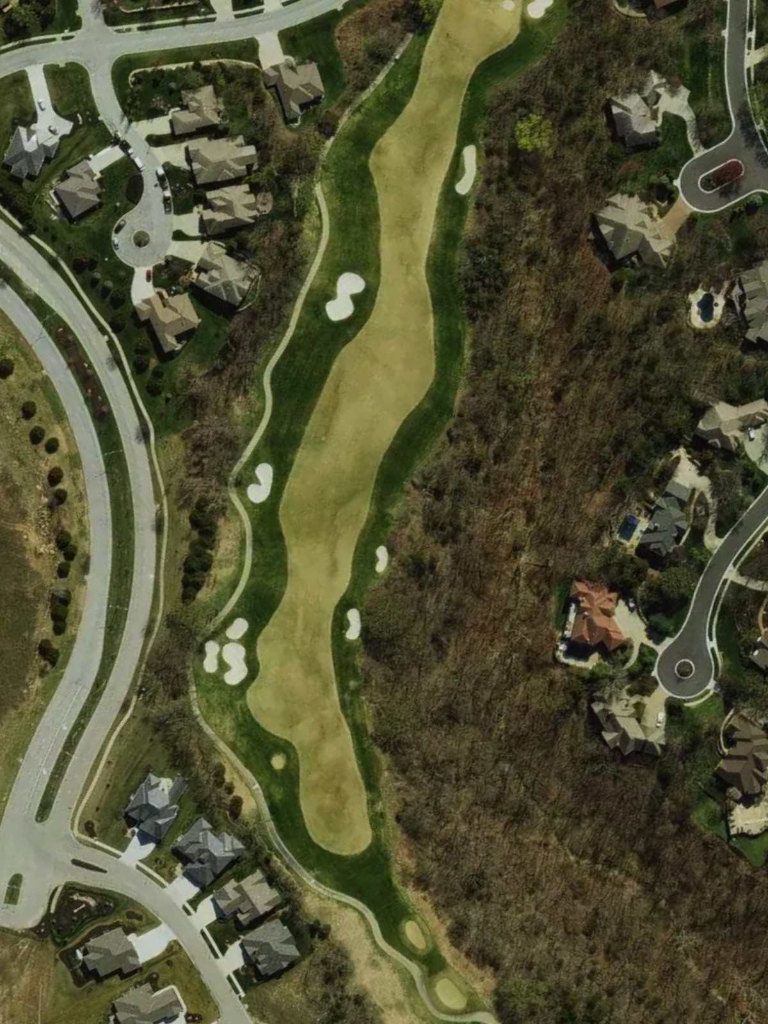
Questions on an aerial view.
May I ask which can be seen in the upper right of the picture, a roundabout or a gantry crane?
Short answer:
roundabout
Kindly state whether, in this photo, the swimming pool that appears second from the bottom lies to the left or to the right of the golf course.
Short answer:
to the right of it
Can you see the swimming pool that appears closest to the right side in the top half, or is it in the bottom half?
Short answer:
top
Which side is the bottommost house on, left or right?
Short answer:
left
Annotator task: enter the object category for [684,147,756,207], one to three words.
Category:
roundabout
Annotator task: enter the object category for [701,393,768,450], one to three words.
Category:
house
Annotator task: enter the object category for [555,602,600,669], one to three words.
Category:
swimming pool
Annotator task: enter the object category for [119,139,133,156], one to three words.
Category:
vehicle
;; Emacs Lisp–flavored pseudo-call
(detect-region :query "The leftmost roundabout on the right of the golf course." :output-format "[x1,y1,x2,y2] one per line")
[659,644,712,696]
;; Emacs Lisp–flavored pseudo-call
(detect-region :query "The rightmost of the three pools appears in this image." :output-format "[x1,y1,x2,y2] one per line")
[689,280,730,328]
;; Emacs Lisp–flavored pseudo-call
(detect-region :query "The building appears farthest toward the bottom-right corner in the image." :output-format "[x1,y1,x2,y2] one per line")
[723,709,768,793]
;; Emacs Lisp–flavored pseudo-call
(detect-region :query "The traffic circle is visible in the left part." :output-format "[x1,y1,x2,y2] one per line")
[114,214,168,266]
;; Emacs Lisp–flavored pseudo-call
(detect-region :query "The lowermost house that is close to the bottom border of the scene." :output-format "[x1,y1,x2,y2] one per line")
[107,983,183,1024]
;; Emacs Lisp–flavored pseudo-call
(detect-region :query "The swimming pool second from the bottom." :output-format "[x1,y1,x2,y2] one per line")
[615,508,649,554]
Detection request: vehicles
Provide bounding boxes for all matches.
[146,269,151,282]
[656,713,663,727]
[48,125,59,136]
[165,191,172,214]
[119,139,133,156]
[115,220,125,233]
[37,99,46,111]
[112,238,120,250]
[155,166,167,191]
[626,597,634,609]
